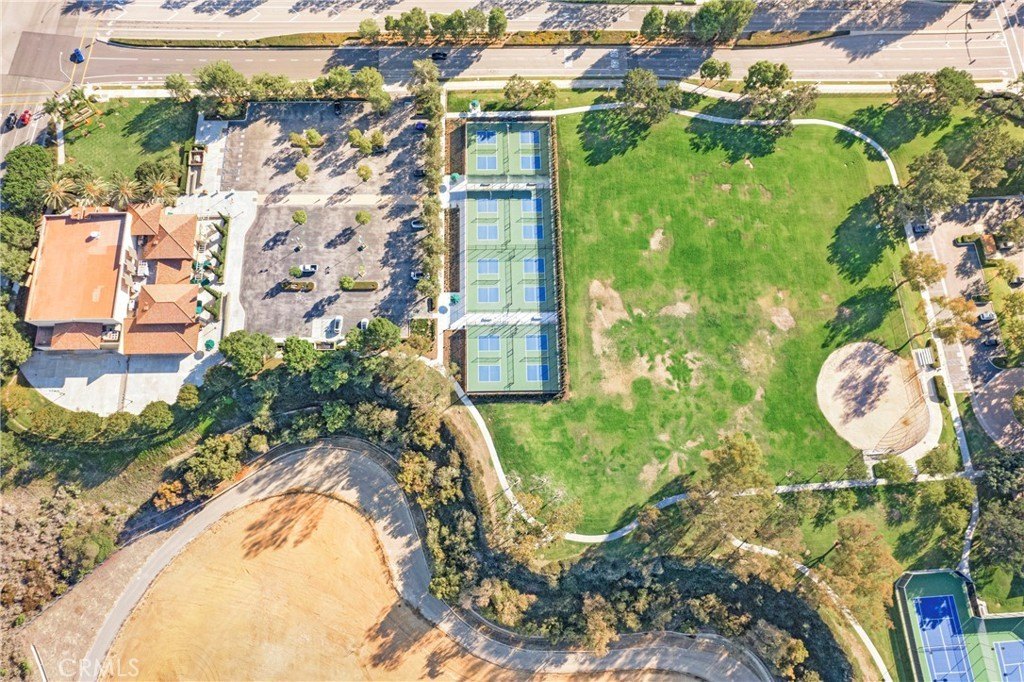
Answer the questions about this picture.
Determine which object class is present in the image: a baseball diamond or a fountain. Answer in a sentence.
Looking from above, you can make out a baseball diamond.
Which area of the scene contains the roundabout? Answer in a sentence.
The roundabout is located in the right region of the scene.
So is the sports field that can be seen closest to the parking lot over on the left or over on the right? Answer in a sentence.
The sports field that can be seen closest to the parking lot appears in the right half of the scene.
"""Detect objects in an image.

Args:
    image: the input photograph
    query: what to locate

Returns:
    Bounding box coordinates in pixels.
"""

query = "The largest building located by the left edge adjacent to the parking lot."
[20,202,209,361]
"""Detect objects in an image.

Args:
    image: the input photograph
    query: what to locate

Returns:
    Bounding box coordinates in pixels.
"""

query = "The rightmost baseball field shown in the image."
[817,342,930,454]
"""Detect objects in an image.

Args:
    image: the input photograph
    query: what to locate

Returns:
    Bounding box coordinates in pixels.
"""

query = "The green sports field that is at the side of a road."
[473,107,931,534]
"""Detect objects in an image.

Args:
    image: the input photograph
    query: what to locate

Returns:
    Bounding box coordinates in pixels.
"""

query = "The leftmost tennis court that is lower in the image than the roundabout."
[905,572,986,682]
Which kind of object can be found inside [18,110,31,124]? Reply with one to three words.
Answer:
vehicle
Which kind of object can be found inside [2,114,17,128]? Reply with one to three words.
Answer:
car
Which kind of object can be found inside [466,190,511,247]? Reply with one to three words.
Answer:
sports court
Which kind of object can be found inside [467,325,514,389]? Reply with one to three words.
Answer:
sports court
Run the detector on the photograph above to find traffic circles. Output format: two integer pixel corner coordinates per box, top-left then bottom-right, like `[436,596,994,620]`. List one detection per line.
[965,336,1024,459]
